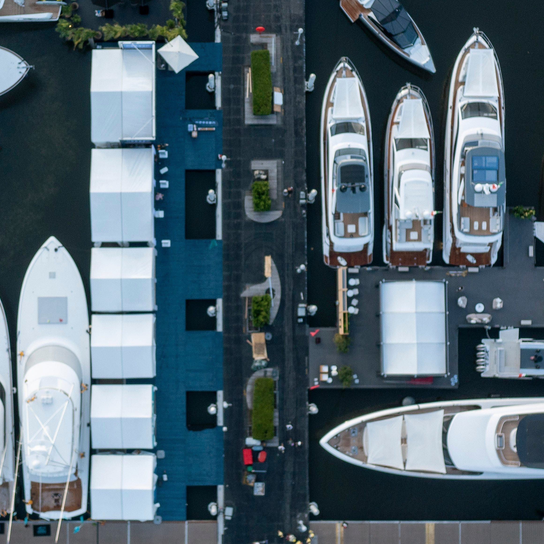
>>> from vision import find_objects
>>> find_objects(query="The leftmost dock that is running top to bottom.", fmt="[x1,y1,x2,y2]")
[91,44,224,520]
